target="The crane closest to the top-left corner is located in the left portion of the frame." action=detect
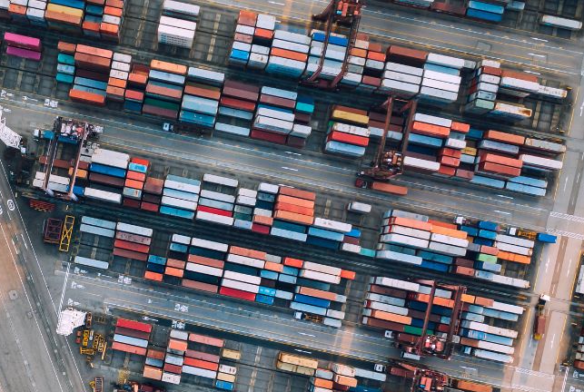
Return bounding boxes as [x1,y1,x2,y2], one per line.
[39,114,97,202]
